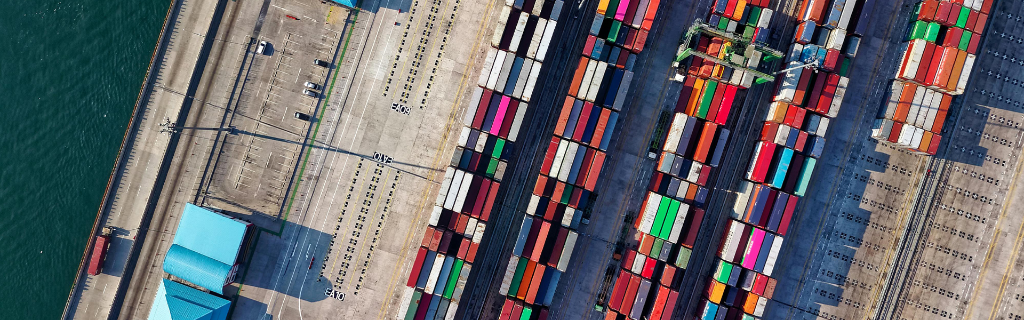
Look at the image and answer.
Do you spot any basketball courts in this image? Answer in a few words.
No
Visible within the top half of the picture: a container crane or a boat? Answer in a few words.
container crane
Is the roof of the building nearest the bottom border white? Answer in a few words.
No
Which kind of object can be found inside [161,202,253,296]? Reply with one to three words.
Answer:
building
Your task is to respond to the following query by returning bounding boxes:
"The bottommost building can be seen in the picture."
[148,279,234,320]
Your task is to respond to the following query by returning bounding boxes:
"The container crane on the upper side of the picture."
[666,11,785,98]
